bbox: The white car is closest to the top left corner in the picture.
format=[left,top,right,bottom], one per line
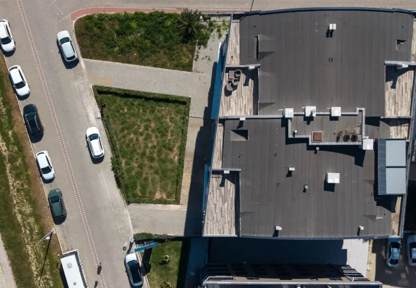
[0,19,15,54]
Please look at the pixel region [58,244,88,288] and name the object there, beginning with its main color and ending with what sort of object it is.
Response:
white vehicle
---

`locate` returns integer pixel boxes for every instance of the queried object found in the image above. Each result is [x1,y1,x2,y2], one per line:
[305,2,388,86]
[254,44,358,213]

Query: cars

[8,64,29,98]
[36,150,55,182]
[85,126,104,160]
[57,32,77,64]
[125,251,144,288]
[0,19,15,54]
[23,104,43,138]
[405,234,416,266]
[47,188,66,221]
[386,236,402,268]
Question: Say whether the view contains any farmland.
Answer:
No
